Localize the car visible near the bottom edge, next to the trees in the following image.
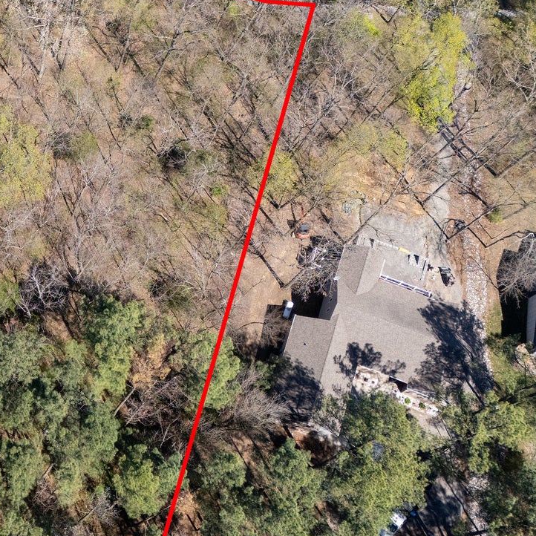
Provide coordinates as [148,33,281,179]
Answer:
[375,507,414,536]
